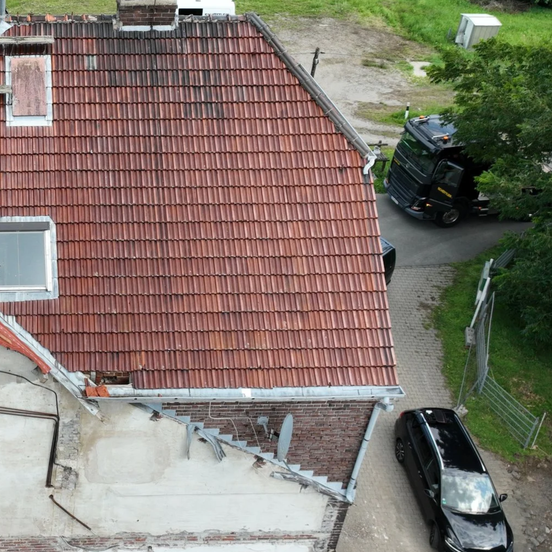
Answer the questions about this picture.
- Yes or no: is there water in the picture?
No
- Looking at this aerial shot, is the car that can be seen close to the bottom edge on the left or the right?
right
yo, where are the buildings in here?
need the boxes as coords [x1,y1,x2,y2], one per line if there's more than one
[455,16,503,49]
[0,0,410,552]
